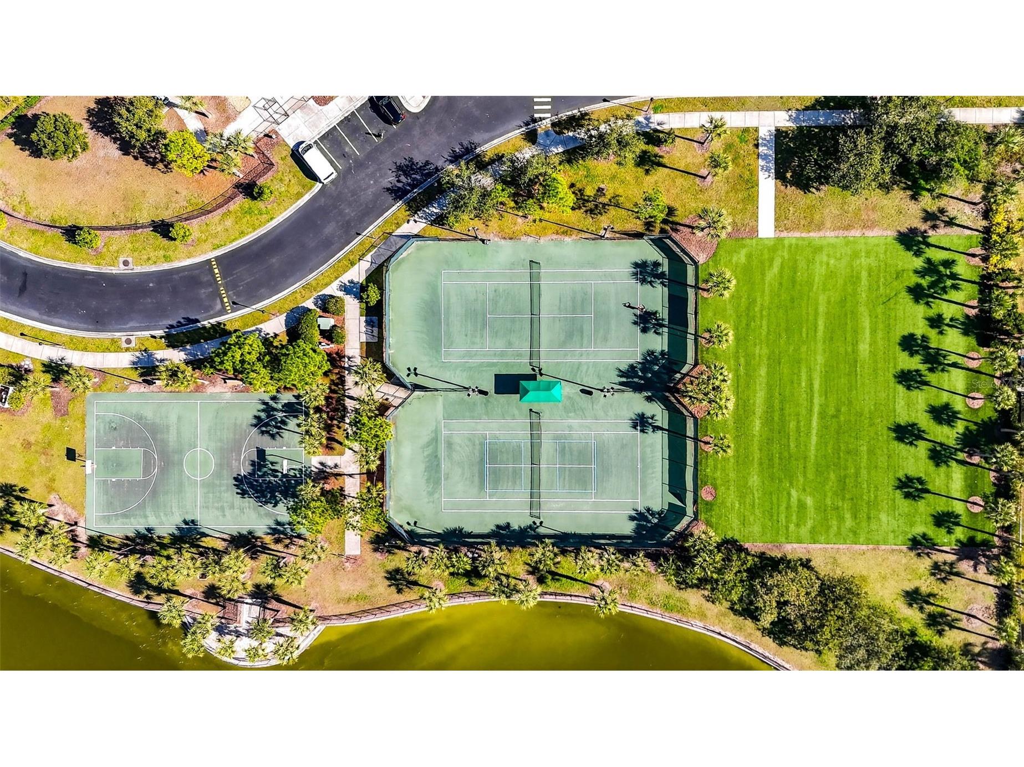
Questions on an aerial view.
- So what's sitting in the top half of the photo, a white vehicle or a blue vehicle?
white vehicle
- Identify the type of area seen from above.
sports ground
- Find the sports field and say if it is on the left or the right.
right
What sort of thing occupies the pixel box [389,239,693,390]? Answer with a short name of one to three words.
tennis court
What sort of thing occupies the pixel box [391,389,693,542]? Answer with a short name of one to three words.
tennis court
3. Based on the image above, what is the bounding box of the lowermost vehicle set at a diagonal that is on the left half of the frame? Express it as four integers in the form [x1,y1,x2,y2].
[303,144,338,187]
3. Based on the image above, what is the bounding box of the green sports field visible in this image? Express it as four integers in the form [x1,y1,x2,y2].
[695,234,995,550]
